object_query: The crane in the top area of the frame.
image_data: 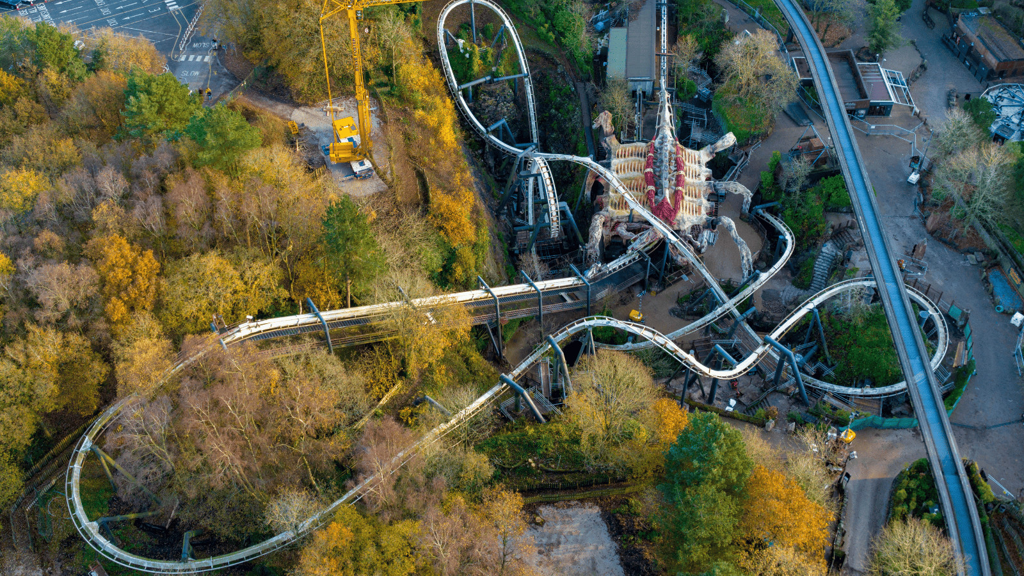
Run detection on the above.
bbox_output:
[300,0,440,201]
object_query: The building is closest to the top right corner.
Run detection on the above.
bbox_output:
[954,11,1024,88]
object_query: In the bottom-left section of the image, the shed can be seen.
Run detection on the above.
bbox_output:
[83,542,114,576]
